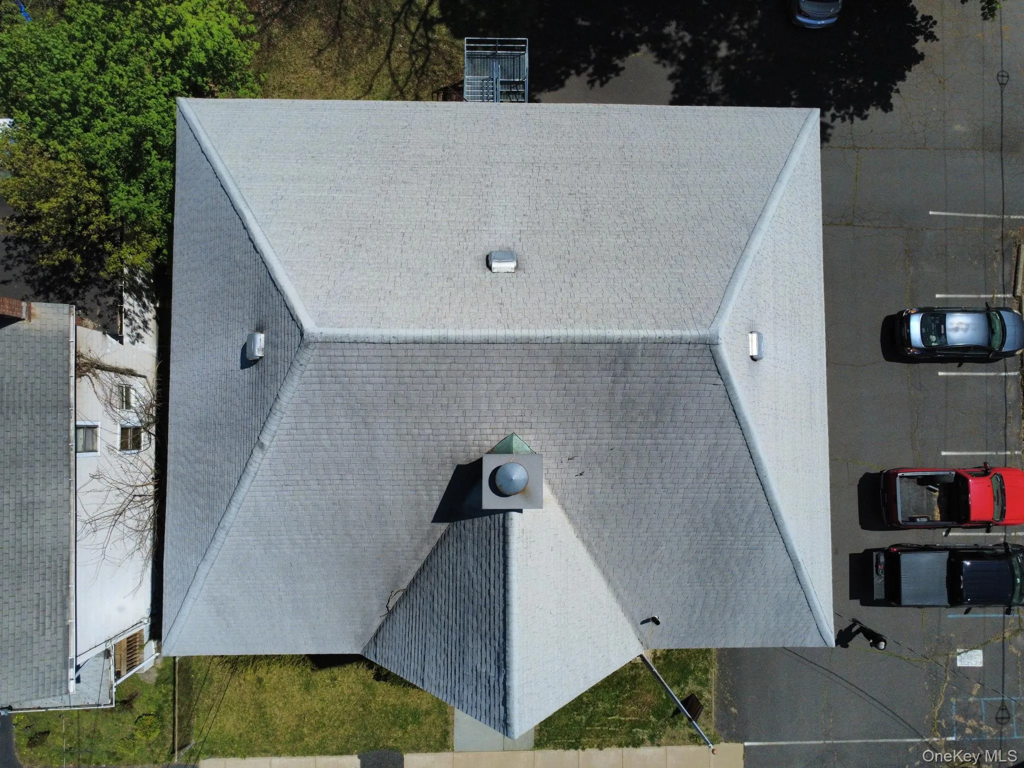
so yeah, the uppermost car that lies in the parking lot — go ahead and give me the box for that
[787,0,843,32]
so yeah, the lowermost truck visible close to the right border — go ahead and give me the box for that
[873,543,1024,612]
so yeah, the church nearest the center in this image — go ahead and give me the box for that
[162,97,836,742]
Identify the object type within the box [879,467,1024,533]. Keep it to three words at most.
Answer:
truck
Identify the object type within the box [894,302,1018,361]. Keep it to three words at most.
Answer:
car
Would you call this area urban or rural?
urban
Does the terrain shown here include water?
No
